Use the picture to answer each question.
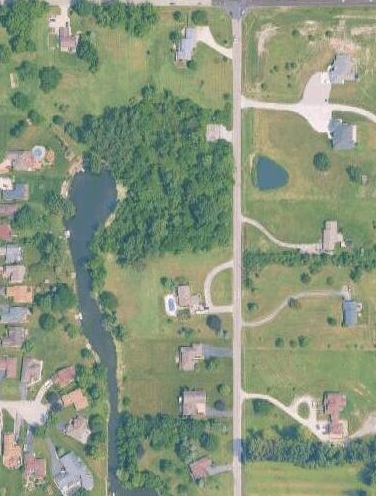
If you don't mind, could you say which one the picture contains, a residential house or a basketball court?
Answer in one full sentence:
It is a residential house that can be seen here.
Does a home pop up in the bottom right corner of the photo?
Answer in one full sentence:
Yes, there is a home in the bottom right corner of the photo.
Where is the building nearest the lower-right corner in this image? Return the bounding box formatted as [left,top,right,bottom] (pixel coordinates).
[329,393,346,436]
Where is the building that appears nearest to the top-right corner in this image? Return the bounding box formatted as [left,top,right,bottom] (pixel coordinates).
[331,58,360,84]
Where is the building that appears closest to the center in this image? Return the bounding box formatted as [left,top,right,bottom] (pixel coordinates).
[179,286,200,308]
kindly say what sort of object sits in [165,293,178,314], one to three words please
swimming pool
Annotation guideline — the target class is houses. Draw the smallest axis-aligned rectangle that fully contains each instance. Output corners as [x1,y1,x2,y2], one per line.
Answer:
[2,184,29,200]
[0,356,18,378]
[22,357,41,385]
[188,458,213,482]
[60,26,77,51]
[179,286,200,308]
[4,434,22,468]
[25,452,47,479]
[52,365,77,388]
[323,221,339,250]
[0,224,12,240]
[7,149,31,169]
[51,449,96,496]
[3,326,26,346]
[4,265,25,282]
[64,413,92,441]
[181,345,205,369]
[64,387,90,412]
[184,393,207,415]
[207,124,222,141]
[0,245,21,263]
[331,58,360,84]
[0,201,19,212]
[181,26,196,60]
[329,393,346,436]
[8,286,32,302]
[344,301,357,327]
[1,307,29,323]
